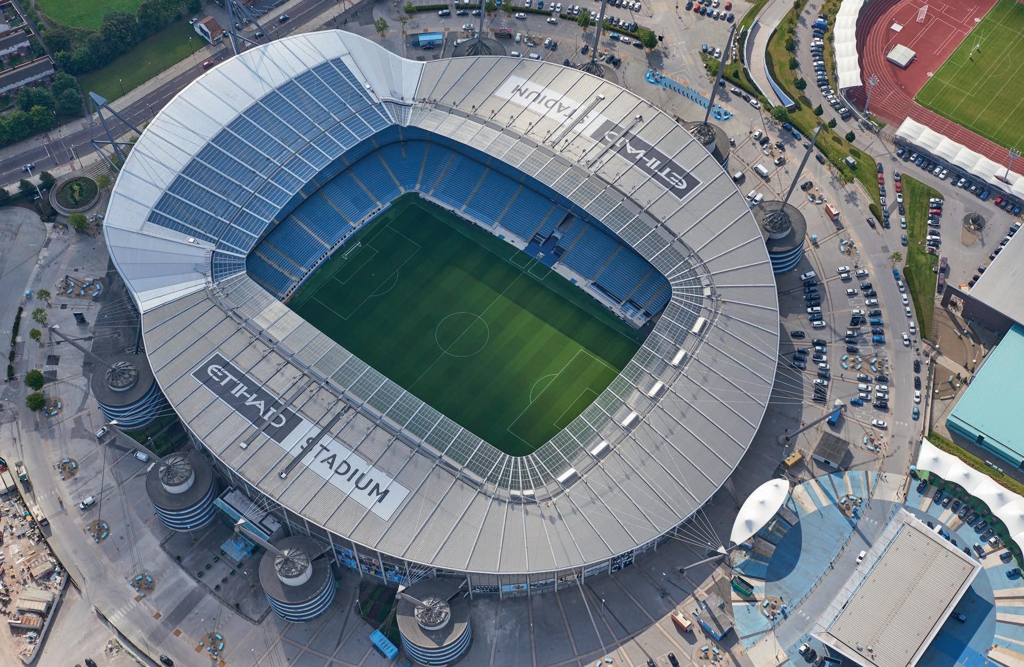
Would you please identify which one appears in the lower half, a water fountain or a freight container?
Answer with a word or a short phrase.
freight container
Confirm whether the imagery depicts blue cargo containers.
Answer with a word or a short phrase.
Yes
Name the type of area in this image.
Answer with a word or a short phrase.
sports ground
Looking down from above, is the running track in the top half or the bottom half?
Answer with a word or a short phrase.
top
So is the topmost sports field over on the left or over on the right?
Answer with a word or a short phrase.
right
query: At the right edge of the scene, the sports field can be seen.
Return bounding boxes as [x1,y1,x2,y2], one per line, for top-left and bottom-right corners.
[913,0,1024,156]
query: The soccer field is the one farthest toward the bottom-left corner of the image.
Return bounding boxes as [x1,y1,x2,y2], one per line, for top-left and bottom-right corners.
[282,195,649,490]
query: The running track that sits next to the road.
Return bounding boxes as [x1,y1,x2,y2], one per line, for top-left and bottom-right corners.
[834,0,1024,176]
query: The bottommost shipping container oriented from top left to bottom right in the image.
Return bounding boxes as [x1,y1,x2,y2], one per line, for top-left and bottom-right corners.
[369,631,399,662]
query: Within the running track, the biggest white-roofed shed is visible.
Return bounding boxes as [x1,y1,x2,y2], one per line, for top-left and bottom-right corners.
[885,45,917,67]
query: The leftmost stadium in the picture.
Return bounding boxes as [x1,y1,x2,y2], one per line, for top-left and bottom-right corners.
[102,30,778,599]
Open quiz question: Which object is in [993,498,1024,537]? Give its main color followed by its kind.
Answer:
white tent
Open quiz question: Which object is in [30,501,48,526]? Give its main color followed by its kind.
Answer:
white vehicle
